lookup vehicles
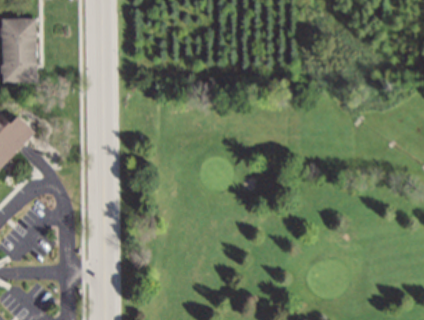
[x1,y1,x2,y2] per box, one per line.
[34,252,44,262]
[42,290,52,300]
[86,268,97,278]
[34,203,44,215]
[40,240,50,251]
[18,219,28,228]
[2,239,13,250]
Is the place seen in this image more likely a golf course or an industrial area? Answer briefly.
golf course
